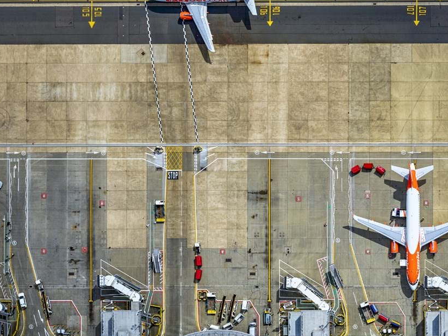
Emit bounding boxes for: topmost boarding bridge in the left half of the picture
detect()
[98,275,146,301]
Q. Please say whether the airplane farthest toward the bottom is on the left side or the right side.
right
